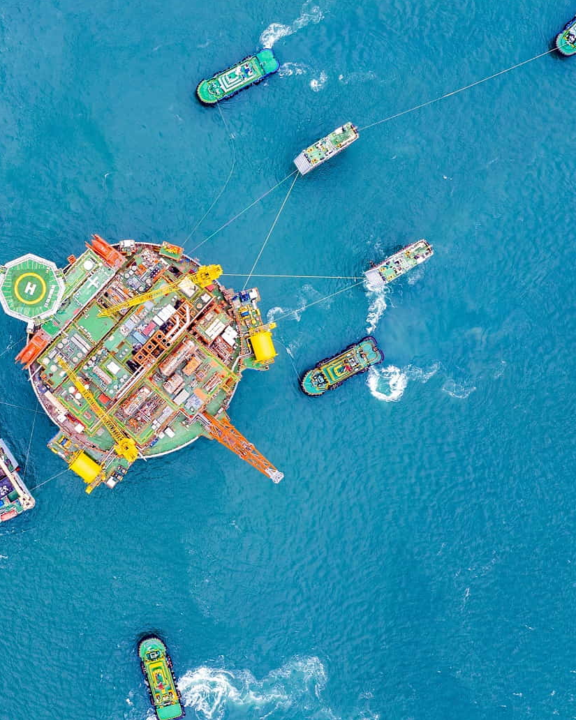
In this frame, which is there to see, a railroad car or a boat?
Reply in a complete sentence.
This aerial view contains a boat.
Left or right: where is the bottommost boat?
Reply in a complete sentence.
The bottommost boat appears in the left half of the scene.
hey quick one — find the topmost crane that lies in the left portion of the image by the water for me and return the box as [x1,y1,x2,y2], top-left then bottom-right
[98,258,232,317]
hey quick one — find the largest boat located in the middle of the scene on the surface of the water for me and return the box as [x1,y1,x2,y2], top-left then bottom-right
[301,337,385,395]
